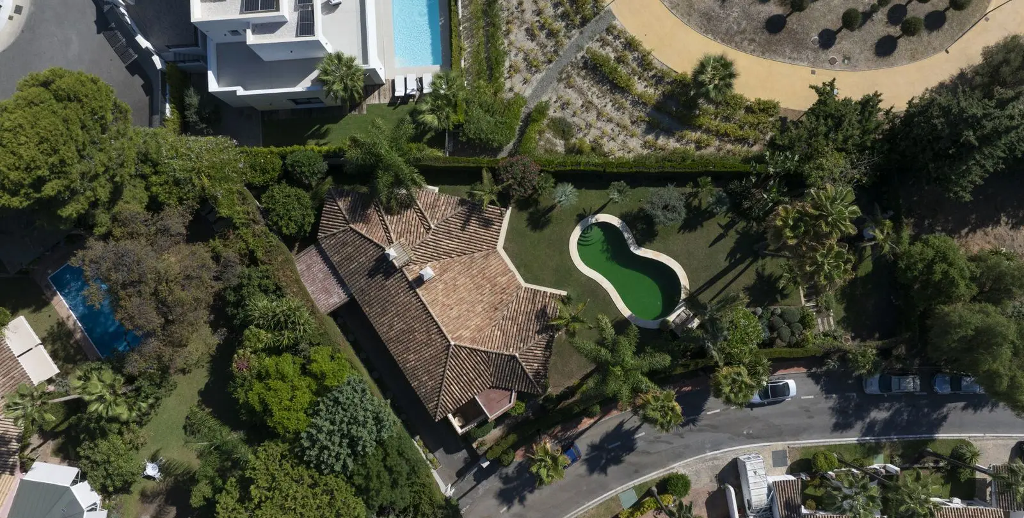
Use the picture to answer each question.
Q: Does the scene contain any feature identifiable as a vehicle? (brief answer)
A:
Yes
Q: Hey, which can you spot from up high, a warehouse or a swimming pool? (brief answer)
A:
swimming pool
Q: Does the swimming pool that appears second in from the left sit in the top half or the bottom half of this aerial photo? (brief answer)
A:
top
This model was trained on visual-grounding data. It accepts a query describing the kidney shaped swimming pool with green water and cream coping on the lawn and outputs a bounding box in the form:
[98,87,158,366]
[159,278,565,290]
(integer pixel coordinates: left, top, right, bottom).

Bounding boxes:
[568,212,692,329]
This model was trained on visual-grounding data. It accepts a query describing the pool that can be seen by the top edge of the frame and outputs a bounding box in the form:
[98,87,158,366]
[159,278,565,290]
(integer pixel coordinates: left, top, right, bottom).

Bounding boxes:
[390,0,446,70]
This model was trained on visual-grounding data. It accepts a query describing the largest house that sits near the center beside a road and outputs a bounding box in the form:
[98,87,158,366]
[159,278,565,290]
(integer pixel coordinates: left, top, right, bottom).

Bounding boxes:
[317,184,568,436]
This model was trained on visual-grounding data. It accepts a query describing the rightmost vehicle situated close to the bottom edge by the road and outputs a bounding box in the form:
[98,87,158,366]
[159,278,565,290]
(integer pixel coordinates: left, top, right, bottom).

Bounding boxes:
[738,449,773,518]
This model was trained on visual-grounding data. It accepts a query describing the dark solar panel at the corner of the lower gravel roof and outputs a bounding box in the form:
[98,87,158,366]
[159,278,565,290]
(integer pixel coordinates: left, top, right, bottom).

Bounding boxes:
[298,8,316,37]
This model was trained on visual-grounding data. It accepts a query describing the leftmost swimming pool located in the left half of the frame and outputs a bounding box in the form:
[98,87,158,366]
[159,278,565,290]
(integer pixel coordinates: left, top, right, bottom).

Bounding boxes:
[46,249,140,361]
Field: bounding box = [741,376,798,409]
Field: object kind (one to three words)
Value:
car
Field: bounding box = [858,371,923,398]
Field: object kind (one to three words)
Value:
car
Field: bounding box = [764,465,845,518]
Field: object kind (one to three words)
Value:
house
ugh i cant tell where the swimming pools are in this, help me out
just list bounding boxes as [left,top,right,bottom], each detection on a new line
[46,249,140,361]
[390,0,446,70]
[568,212,692,329]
